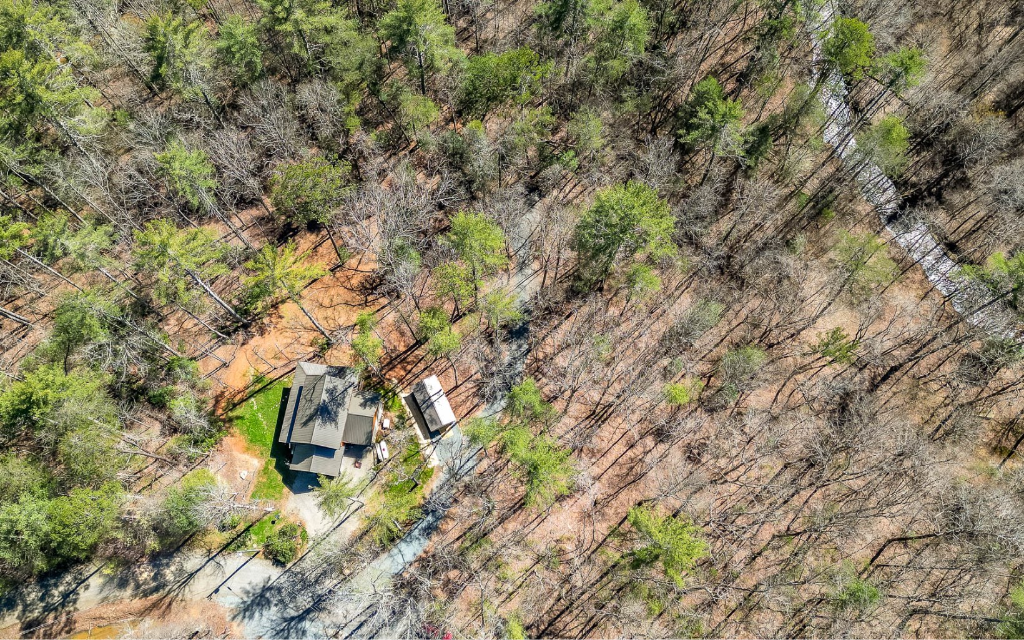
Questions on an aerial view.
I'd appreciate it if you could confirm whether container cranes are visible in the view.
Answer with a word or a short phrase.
No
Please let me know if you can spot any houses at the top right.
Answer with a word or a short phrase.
No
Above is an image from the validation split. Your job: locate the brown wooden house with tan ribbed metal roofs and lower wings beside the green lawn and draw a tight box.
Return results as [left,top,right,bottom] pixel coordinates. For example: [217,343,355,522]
[279,360,381,477]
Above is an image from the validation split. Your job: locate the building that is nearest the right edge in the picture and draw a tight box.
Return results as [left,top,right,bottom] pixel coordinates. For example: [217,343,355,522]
[405,376,456,445]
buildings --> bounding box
[279,360,381,477]
[405,376,456,445]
